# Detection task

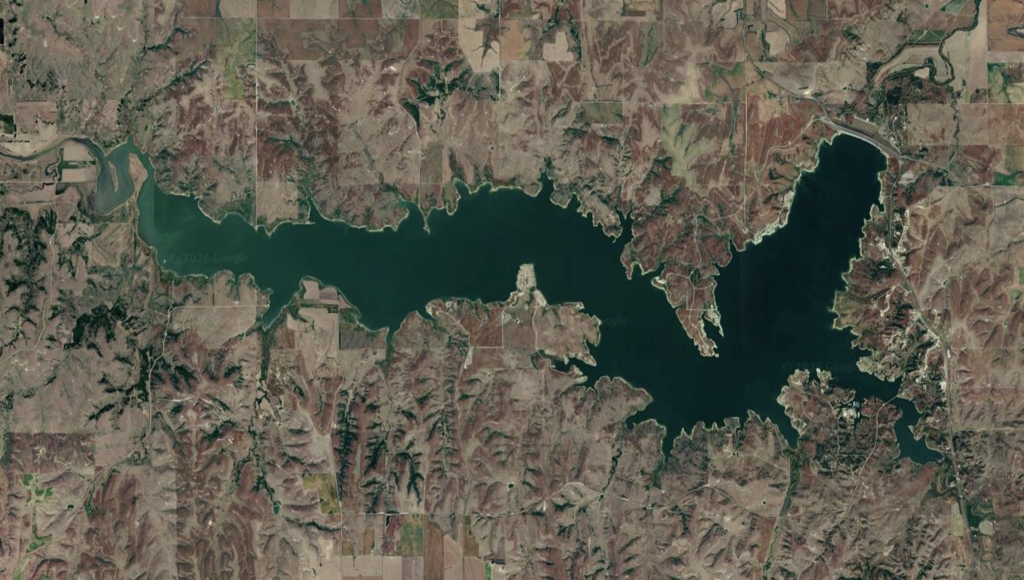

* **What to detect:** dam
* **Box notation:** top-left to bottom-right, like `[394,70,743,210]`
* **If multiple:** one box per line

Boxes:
[827,113,902,157]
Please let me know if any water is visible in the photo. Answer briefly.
Yes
